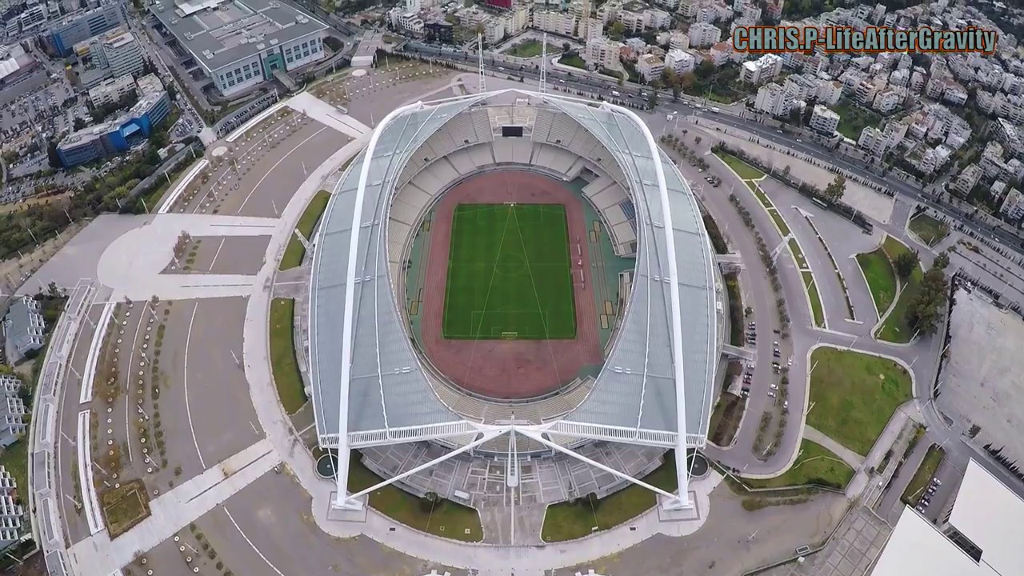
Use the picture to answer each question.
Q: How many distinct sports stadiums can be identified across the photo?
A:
1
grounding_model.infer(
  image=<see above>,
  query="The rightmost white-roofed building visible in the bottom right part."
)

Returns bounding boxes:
[936,458,1024,576]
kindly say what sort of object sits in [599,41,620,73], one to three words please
building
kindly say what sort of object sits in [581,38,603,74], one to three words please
building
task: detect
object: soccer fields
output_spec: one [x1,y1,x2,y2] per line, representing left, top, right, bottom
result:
[442,203,578,339]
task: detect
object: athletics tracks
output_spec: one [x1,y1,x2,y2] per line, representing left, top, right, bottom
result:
[408,170,621,398]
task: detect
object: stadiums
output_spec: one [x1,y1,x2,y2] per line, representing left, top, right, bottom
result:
[300,87,724,511]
